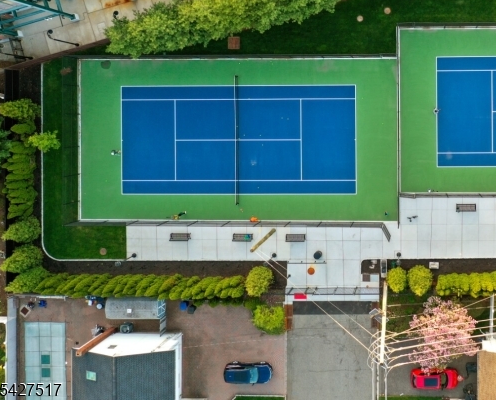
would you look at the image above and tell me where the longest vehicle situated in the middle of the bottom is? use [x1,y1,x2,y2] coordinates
[222,362,272,388]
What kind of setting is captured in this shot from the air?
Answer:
sports ground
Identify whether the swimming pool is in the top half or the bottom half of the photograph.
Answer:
bottom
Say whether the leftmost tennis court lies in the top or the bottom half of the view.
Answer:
top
